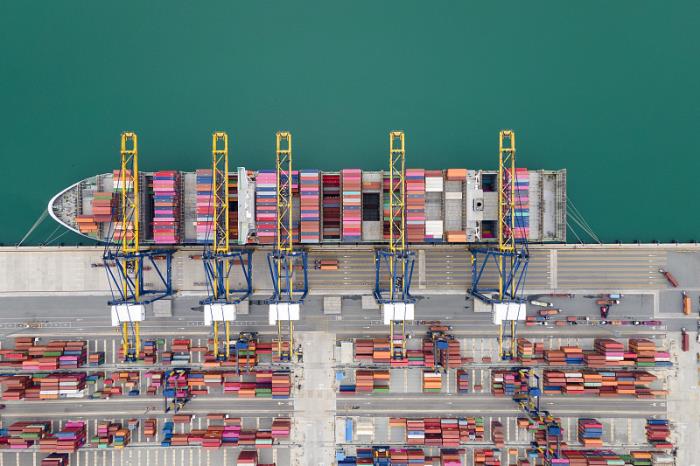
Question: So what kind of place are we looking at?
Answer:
port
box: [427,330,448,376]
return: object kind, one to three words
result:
container crane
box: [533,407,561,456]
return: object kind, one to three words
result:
container crane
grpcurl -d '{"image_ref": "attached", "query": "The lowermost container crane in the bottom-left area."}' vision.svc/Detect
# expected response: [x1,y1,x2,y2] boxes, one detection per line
[163,366,189,414]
